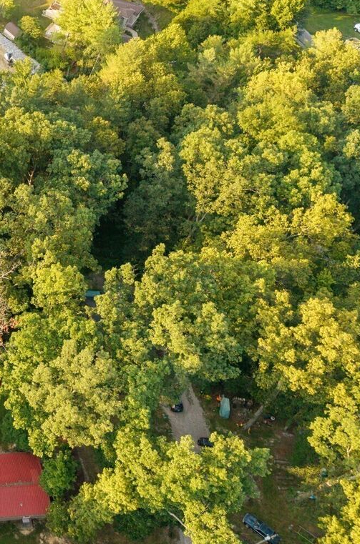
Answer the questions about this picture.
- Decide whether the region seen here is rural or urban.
rural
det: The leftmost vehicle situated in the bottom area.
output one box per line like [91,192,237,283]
[165,398,191,417]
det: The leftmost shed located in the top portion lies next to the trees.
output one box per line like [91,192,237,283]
[4,25,27,45]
